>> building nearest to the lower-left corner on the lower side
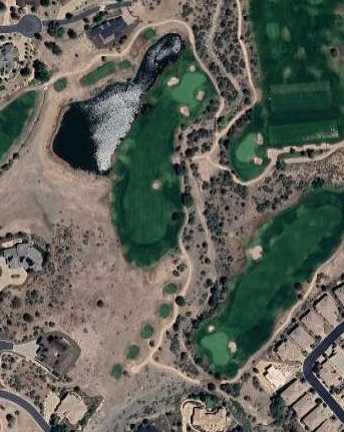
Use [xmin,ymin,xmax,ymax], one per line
[56,395,90,421]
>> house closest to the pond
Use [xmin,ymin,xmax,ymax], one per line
[88,8,129,48]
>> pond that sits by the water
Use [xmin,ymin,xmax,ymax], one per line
[53,33,184,175]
